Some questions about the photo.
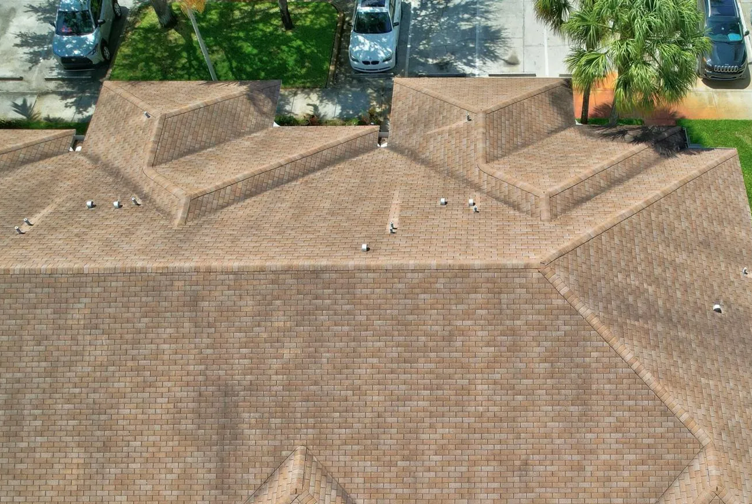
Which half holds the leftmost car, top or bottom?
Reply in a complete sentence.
It is in the top half that the leftmost car appears.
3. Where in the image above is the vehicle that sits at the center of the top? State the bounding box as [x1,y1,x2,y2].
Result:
[345,0,406,68]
